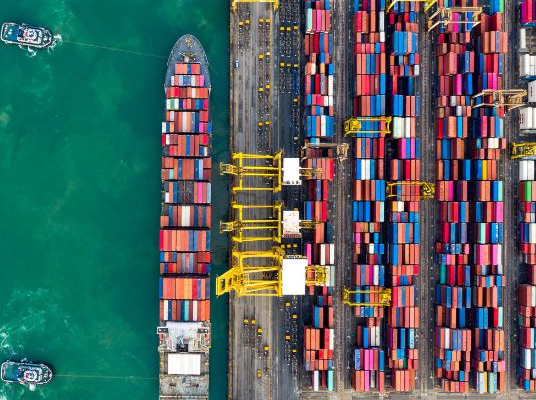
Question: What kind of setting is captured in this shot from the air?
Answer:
port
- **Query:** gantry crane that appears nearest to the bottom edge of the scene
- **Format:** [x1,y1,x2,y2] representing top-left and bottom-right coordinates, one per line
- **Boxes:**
[343,281,394,307]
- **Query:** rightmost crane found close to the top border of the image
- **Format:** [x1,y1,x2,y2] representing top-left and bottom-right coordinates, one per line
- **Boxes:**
[428,9,484,37]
